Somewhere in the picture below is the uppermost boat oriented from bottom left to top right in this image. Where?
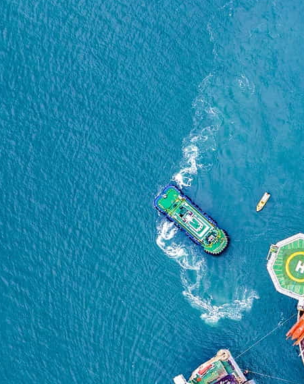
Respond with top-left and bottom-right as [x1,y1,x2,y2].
[257,193,271,211]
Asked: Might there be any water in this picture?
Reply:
Yes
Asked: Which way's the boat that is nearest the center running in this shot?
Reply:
on a diagonal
